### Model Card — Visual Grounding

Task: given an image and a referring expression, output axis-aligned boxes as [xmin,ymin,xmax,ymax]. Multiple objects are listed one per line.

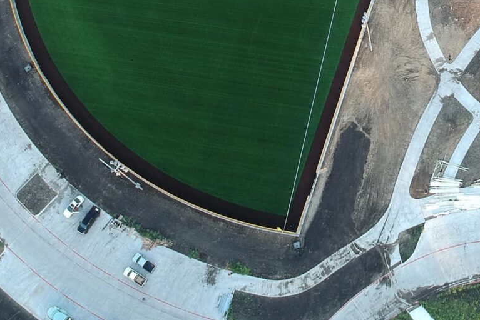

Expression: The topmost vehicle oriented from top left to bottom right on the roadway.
[130,251,157,275]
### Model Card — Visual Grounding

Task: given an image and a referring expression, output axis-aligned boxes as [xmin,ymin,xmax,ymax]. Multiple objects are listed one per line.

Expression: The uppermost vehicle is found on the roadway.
[61,192,83,219]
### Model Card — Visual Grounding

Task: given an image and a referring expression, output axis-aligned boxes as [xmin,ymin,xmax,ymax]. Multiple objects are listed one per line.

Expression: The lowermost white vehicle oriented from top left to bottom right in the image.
[121,265,149,288]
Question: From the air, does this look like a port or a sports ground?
sports ground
